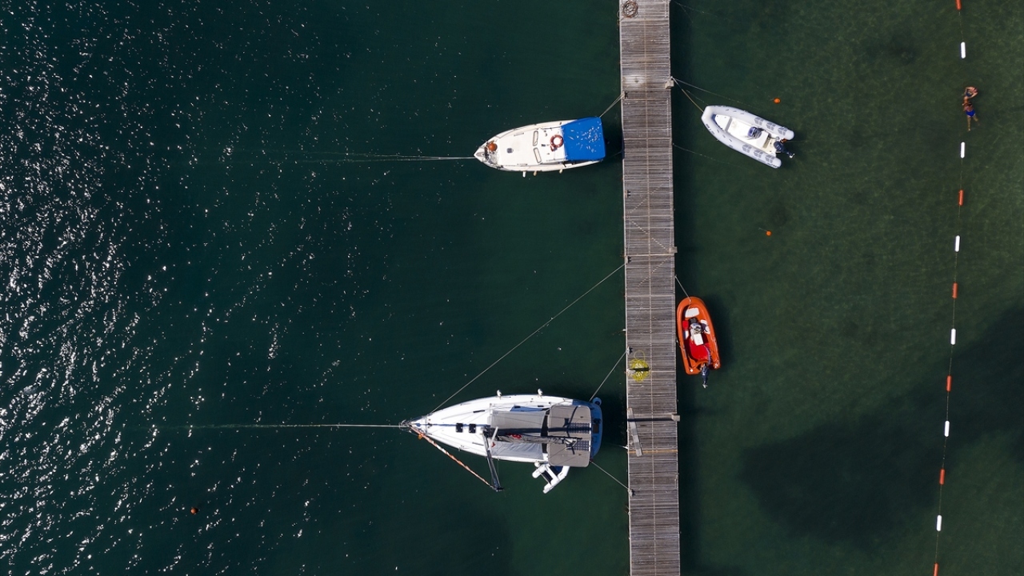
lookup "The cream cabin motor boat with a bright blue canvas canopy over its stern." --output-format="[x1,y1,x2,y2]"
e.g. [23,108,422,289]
[472,117,606,173]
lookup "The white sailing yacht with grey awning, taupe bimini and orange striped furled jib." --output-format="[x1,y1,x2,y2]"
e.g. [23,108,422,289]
[404,393,603,493]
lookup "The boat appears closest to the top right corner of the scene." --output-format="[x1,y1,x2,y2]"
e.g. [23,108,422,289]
[703,104,798,168]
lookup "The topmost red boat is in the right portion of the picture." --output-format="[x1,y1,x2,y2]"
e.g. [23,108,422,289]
[677,297,720,390]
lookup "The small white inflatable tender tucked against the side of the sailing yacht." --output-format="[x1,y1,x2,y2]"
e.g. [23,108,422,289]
[532,462,571,493]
